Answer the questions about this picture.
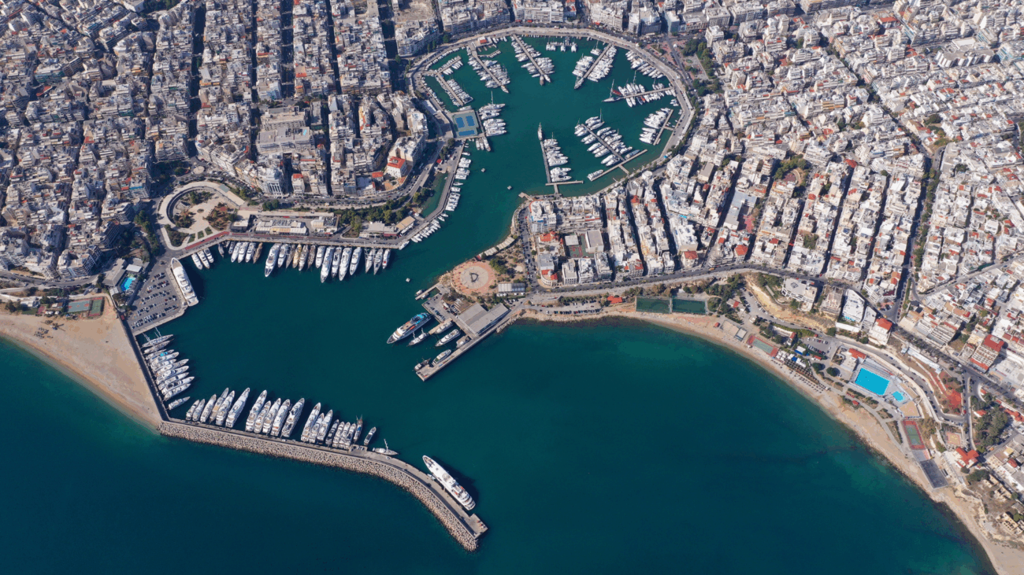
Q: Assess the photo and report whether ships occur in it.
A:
Yes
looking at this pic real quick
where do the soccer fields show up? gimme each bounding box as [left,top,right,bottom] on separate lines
[672,297,706,314]
[636,296,671,313]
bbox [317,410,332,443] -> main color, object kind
white boat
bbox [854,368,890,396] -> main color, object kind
blue swimming pool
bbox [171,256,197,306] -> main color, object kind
white ship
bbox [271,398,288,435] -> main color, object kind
white boat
